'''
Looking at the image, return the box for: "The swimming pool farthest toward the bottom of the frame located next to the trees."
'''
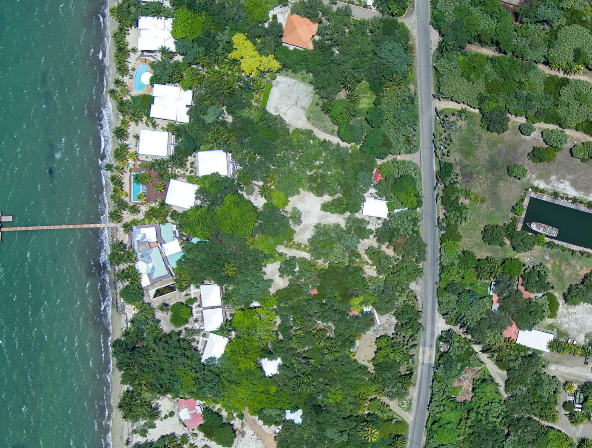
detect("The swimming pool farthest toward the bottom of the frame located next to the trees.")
[151,283,179,298]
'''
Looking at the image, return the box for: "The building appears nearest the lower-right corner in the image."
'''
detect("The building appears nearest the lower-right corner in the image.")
[517,329,554,353]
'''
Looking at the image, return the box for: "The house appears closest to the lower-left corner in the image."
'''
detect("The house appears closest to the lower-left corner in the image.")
[179,398,205,429]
